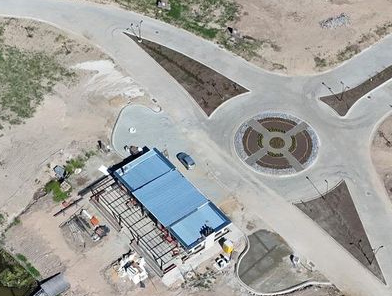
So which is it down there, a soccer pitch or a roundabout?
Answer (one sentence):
There is a roundabout in the scene.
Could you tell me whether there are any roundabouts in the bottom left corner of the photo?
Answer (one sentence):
No, in the bottom left corner of the photo there is no roundabout.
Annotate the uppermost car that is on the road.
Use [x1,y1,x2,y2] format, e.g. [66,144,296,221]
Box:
[176,153,196,170]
